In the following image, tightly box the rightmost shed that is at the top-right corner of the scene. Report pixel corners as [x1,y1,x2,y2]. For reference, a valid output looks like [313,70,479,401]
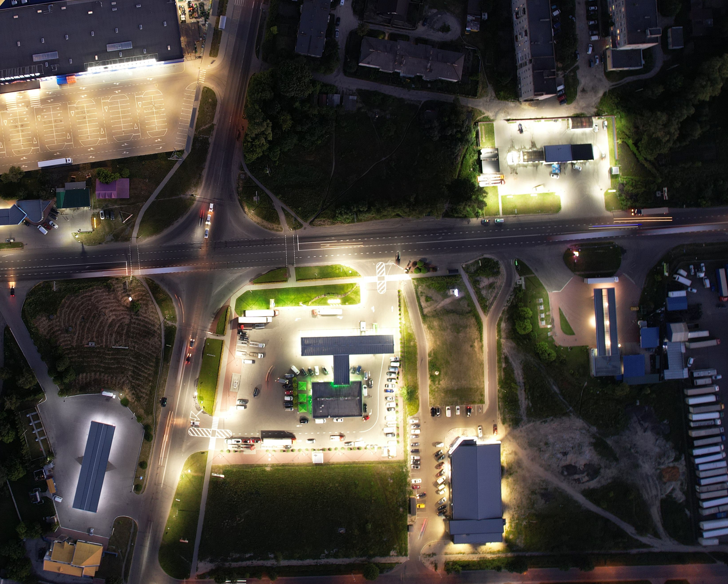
[667,26,684,49]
